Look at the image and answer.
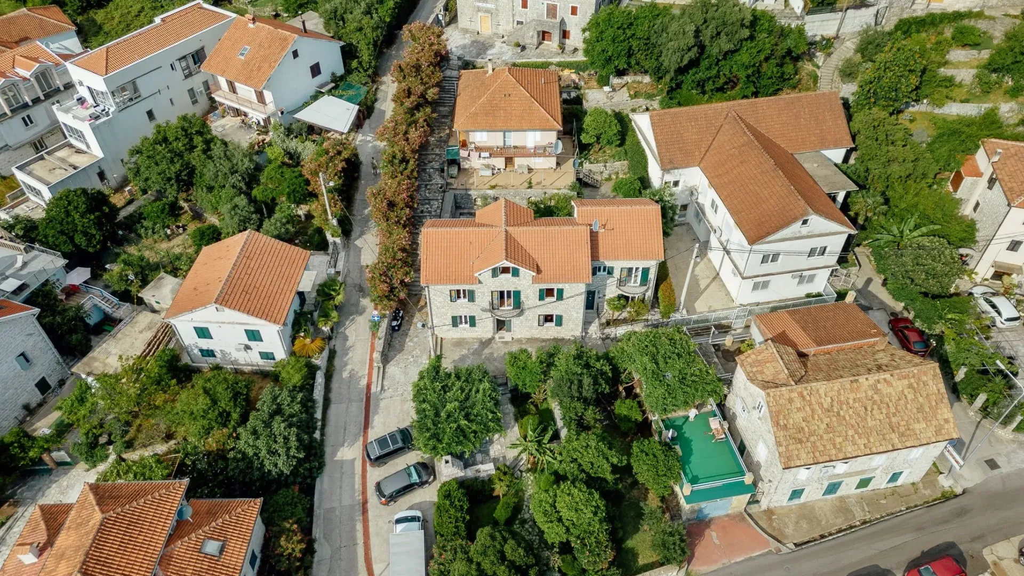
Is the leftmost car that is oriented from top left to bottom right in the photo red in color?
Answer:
Yes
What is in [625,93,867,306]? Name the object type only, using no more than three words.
house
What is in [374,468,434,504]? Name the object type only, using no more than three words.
car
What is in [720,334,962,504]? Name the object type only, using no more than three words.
house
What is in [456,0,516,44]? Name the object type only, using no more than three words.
building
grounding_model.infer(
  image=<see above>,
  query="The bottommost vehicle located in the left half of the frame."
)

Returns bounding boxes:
[385,510,432,576]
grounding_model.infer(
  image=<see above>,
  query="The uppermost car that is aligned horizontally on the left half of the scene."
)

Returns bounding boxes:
[359,431,423,466]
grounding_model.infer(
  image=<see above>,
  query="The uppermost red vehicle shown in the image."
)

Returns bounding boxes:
[884,318,938,358]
